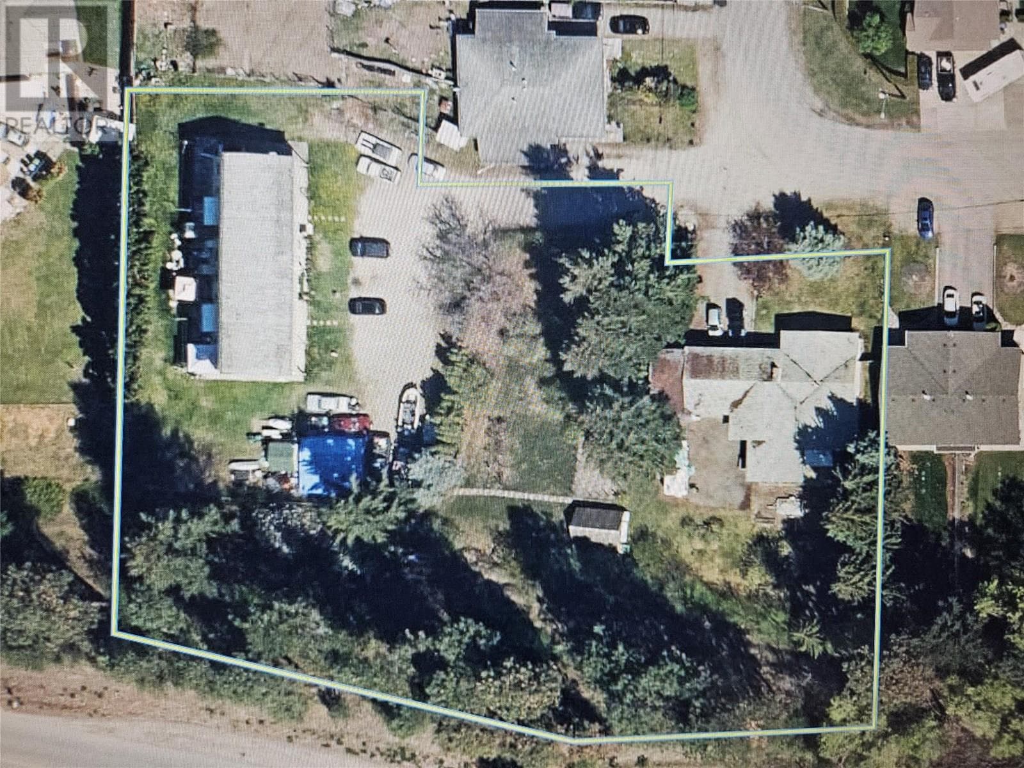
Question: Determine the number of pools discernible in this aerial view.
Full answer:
The photo contains no pools.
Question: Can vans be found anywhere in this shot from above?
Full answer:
Yes, a van appears in the view.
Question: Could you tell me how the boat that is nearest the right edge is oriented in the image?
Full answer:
From this overhead view, the boat that is nearest the right edge appears to run up and down.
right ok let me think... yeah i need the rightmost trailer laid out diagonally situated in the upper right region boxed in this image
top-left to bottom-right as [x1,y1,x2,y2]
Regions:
[959,43,1024,95]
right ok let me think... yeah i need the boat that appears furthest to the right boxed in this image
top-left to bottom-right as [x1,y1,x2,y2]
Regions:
[398,379,421,436]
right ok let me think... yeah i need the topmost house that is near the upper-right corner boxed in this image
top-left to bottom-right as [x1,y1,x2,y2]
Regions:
[905,0,999,52]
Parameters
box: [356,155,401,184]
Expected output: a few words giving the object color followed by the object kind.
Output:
white van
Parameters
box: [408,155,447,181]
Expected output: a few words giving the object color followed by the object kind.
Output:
white car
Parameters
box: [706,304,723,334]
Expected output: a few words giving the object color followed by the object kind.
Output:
white car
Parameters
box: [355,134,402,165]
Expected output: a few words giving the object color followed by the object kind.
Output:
white truck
